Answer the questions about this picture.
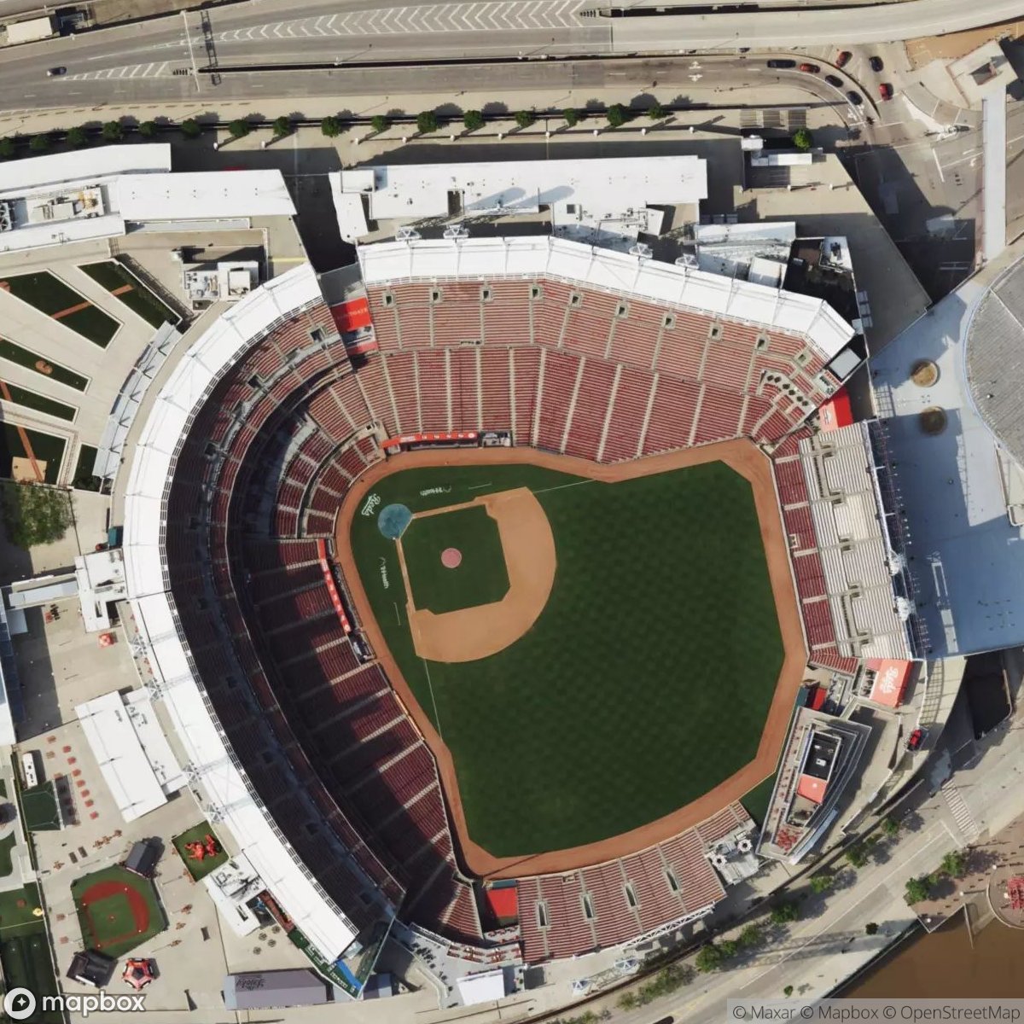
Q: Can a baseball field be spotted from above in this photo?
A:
Yes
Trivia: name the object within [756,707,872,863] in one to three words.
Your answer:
building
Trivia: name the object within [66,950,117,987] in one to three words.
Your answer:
shed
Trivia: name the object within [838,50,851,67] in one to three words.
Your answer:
vehicle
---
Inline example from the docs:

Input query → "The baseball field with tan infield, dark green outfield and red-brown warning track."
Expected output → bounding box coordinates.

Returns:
[337,410,832,880]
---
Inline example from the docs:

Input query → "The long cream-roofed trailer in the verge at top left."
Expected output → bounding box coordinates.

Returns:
[8,17,55,42]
